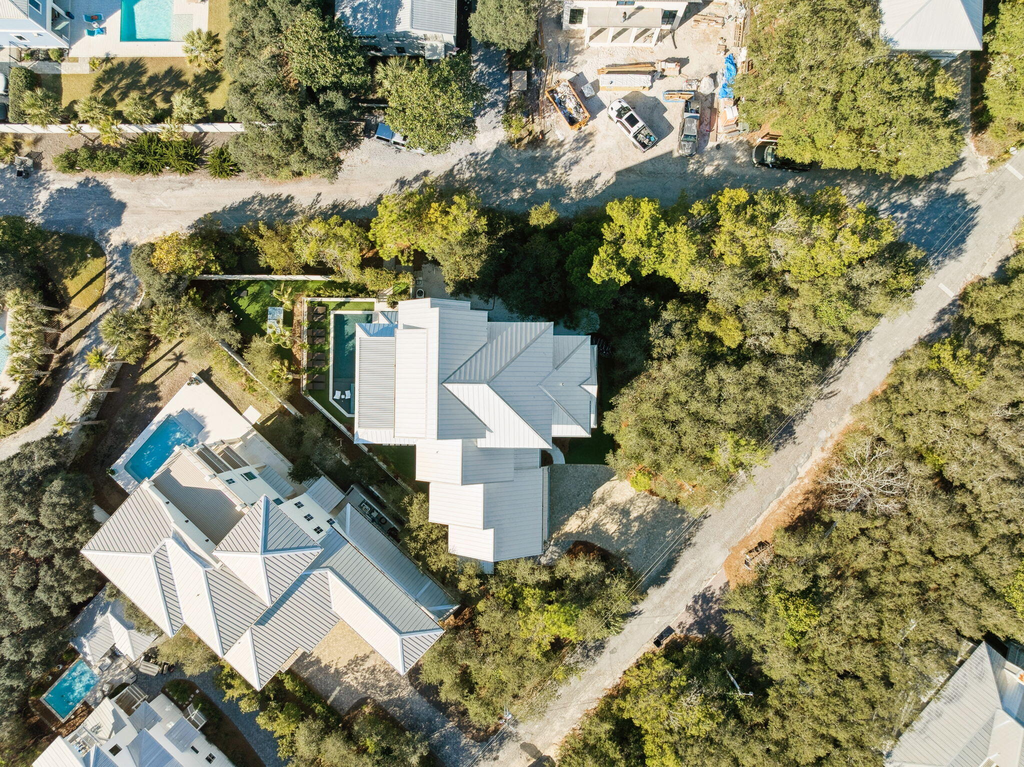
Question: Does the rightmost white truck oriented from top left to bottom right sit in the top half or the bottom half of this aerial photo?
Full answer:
Seen from above, the rightmost white truck oriented from top left to bottom right lies in the top half of the view.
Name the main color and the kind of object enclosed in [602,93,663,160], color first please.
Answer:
white truck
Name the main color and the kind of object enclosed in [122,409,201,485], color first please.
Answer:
blue swimming pool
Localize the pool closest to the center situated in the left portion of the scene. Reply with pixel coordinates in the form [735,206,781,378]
[332,314,373,414]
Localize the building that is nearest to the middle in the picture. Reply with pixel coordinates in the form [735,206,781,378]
[350,298,611,574]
